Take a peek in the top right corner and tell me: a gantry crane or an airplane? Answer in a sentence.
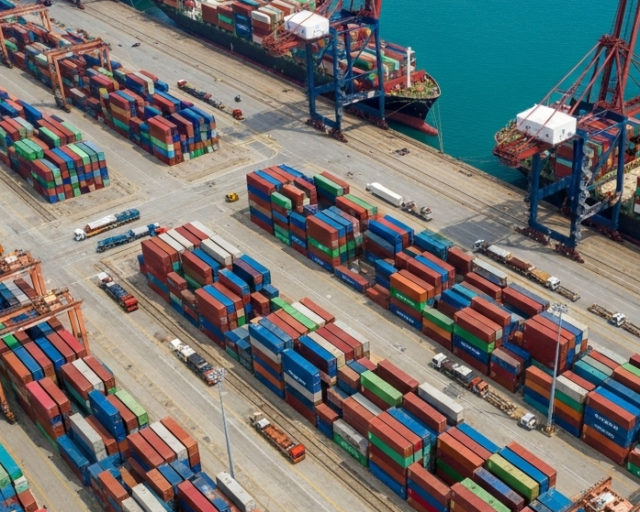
You can see a gantry crane in the top right corner.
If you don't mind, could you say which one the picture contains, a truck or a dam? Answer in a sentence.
The image shows a truck.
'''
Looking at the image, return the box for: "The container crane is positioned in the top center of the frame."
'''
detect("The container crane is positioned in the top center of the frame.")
[260,0,388,141]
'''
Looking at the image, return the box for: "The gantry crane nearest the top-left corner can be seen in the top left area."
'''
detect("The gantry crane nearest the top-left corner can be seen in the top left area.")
[0,3,56,60]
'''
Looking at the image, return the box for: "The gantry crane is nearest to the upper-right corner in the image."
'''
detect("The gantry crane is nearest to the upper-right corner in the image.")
[492,0,640,261]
